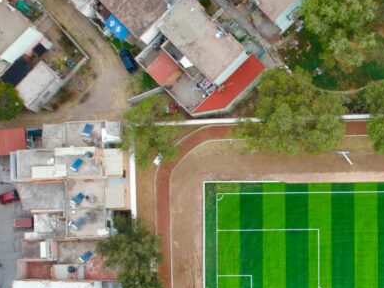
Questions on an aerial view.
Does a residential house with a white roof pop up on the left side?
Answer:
Yes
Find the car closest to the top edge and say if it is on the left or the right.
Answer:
left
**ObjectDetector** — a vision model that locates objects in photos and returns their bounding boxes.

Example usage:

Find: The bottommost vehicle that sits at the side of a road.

[10,216,33,228]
